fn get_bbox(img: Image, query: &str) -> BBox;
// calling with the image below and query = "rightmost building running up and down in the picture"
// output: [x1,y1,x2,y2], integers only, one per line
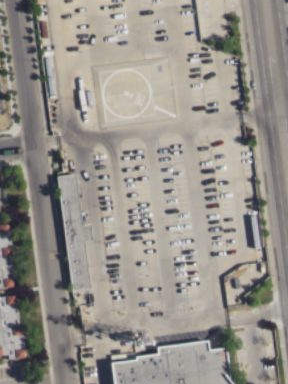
[56,174,92,291]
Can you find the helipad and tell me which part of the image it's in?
top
